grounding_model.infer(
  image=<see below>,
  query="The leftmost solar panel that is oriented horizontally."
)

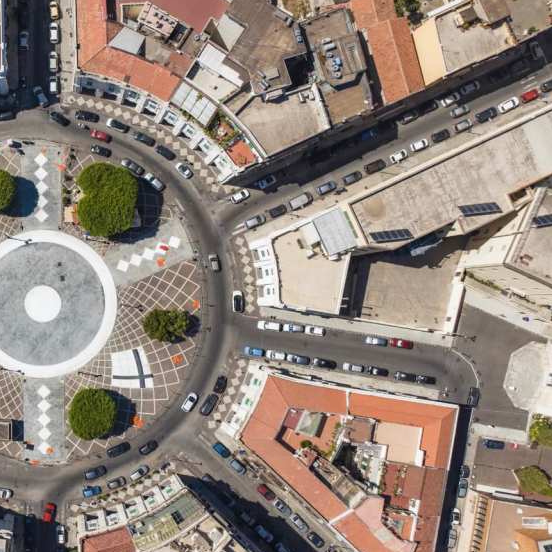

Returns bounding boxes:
[371,228,413,242]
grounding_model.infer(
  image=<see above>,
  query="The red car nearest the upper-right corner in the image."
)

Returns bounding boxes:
[518,88,539,103]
